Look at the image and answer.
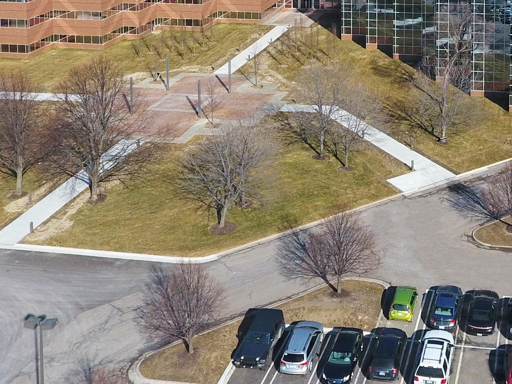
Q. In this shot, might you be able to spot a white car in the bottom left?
No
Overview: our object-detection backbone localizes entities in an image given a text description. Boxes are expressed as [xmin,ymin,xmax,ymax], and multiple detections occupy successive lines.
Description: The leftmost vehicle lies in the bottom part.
[238,311,291,379]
